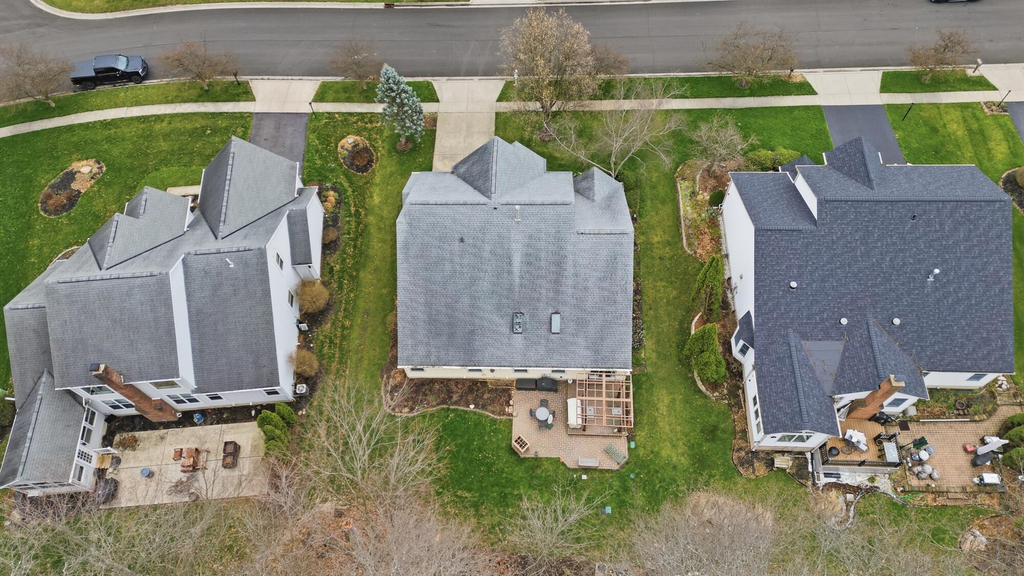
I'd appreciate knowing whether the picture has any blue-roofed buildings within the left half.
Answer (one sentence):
No, no blue-roofed building is visible within the left half.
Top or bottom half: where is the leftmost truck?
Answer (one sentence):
It is in the top half that the leftmost truck appears.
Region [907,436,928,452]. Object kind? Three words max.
umbrella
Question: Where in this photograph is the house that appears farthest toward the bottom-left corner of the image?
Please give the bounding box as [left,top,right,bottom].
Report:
[0,137,321,495]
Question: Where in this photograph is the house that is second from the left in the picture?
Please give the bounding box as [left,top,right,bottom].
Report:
[396,137,633,380]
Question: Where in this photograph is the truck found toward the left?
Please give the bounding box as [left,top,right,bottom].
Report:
[67,53,151,93]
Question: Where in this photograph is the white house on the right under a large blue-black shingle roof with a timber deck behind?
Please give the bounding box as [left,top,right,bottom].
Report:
[707,138,1014,470]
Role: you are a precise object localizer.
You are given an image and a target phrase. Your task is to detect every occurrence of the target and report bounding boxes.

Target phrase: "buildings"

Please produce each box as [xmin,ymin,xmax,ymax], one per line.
[707,138,1014,470]
[396,137,633,380]
[0,137,321,495]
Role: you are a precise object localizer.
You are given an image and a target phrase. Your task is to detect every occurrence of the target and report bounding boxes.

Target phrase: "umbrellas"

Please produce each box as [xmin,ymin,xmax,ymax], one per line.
[545,417,554,430]
[973,437,1013,457]
[907,436,928,452]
